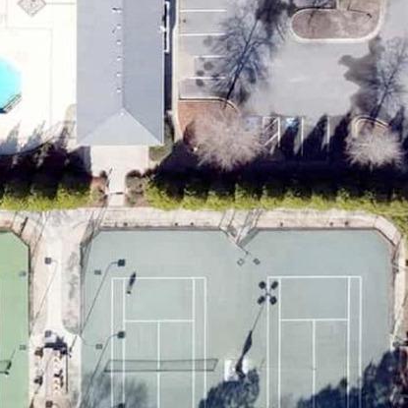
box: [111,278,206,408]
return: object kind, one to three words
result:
tennis court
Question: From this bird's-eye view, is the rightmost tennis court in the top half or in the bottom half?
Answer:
bottom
